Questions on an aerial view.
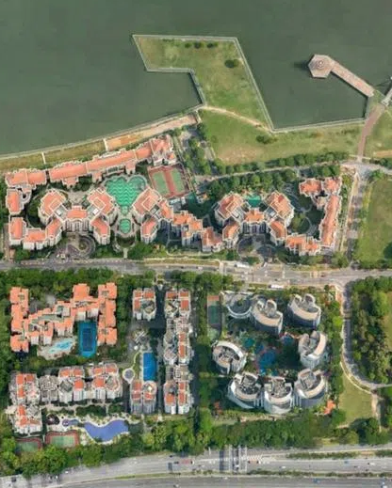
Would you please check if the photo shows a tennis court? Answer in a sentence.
Yes, a tennis court can be made out from above.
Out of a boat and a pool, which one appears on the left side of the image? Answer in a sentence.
There is a pool on the left side of the image.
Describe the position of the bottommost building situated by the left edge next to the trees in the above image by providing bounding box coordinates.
[15,404,46,436]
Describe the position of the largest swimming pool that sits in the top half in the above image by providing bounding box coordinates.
[105,174,148,209]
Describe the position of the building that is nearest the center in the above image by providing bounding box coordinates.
[170,212,226,254]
